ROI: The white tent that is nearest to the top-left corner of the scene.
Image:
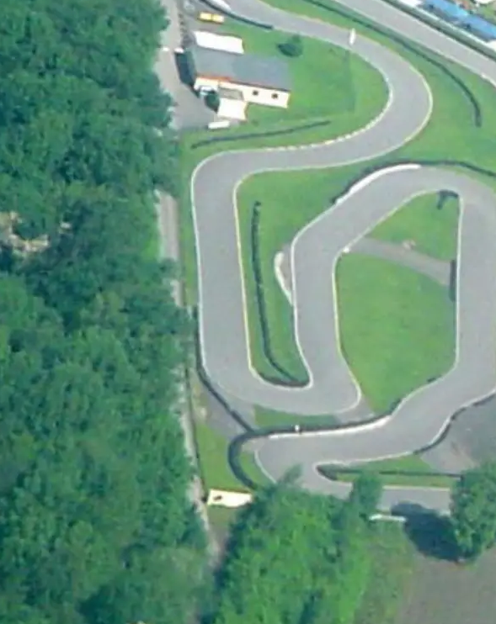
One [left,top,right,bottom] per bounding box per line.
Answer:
[196,32,245,58]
